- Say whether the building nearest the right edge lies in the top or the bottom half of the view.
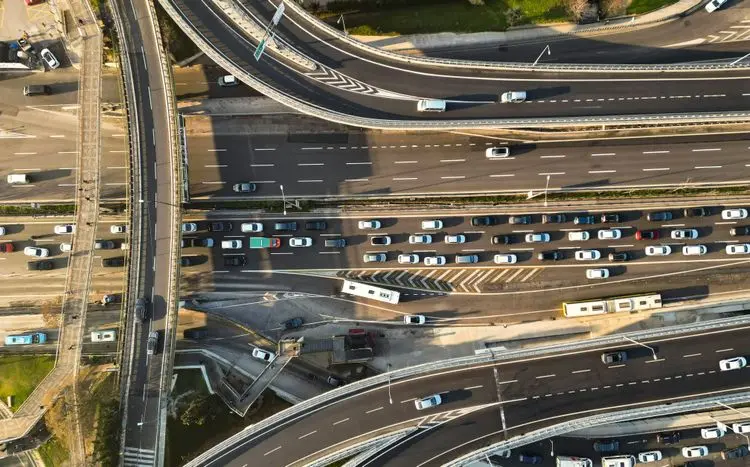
bottom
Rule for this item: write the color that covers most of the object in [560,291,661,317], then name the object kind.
white bus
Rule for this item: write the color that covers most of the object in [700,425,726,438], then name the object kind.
white vehicle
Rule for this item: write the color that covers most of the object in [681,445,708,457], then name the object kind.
white vehicle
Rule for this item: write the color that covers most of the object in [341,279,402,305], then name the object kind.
white bus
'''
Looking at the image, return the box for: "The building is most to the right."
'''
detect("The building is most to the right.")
[301,326,376,363]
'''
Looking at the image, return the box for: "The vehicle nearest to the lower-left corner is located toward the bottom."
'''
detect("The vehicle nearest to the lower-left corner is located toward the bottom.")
[2,332,50,345]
